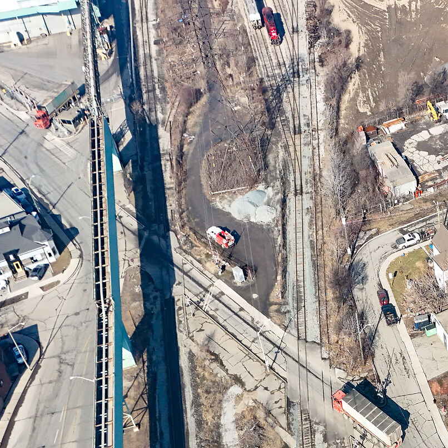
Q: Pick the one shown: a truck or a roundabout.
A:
truck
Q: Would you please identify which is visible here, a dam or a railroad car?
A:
railroad car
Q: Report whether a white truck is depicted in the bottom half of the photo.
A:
Yes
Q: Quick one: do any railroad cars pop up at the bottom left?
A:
No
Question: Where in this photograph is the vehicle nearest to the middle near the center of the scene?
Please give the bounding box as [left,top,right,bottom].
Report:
[207,227,235,247]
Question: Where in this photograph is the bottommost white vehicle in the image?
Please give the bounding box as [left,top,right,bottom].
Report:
[344,398,409,448]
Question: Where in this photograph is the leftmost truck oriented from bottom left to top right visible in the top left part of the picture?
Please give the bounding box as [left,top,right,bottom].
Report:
[36,79,88,125]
